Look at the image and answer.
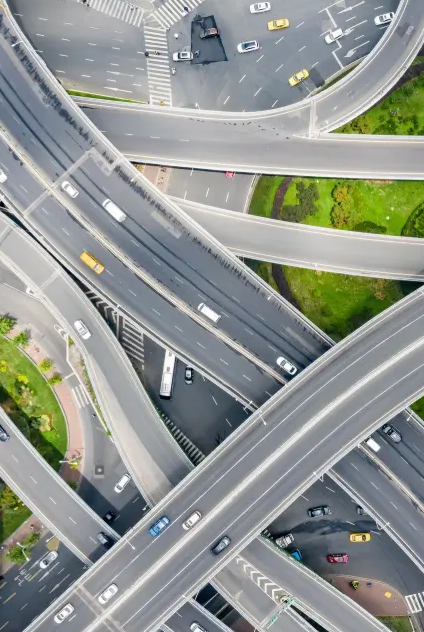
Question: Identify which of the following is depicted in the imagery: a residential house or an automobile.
automobile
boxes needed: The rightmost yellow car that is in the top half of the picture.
[287,68,309,86]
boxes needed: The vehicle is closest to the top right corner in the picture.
[373,11,395,26]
